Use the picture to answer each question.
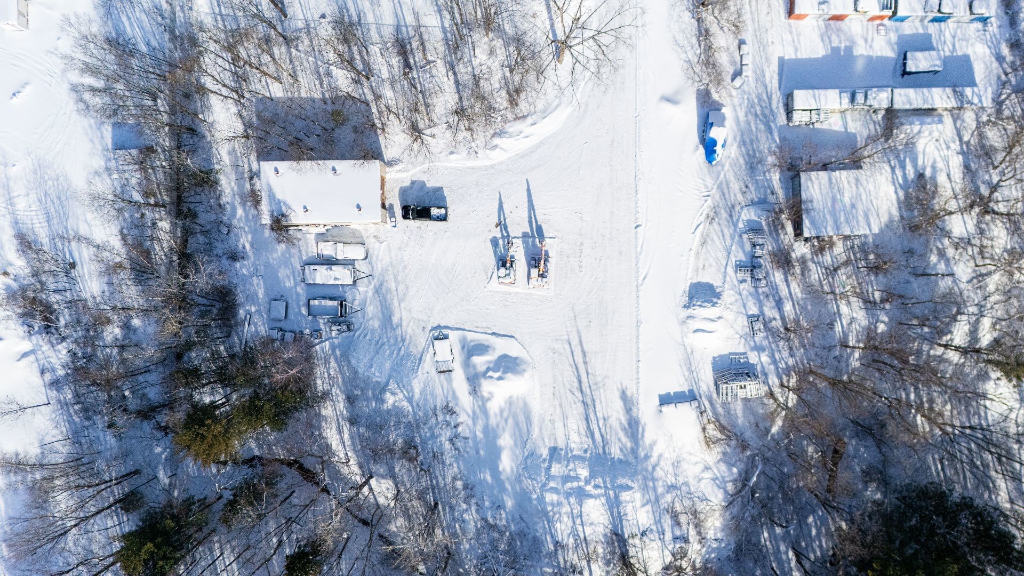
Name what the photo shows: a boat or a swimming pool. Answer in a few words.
boat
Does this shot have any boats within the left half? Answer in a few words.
No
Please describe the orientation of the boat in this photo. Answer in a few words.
vertically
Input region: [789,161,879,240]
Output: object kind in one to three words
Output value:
building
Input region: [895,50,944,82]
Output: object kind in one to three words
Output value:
shed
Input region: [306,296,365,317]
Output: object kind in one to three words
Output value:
trailer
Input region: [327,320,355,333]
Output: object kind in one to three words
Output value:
vehicle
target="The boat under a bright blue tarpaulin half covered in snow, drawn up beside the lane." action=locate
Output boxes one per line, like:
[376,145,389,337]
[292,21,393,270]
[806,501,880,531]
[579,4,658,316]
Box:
[702,110,729,165]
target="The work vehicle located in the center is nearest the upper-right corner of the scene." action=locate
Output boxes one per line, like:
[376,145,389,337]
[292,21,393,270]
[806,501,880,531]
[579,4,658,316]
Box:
[531,239,549,282]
